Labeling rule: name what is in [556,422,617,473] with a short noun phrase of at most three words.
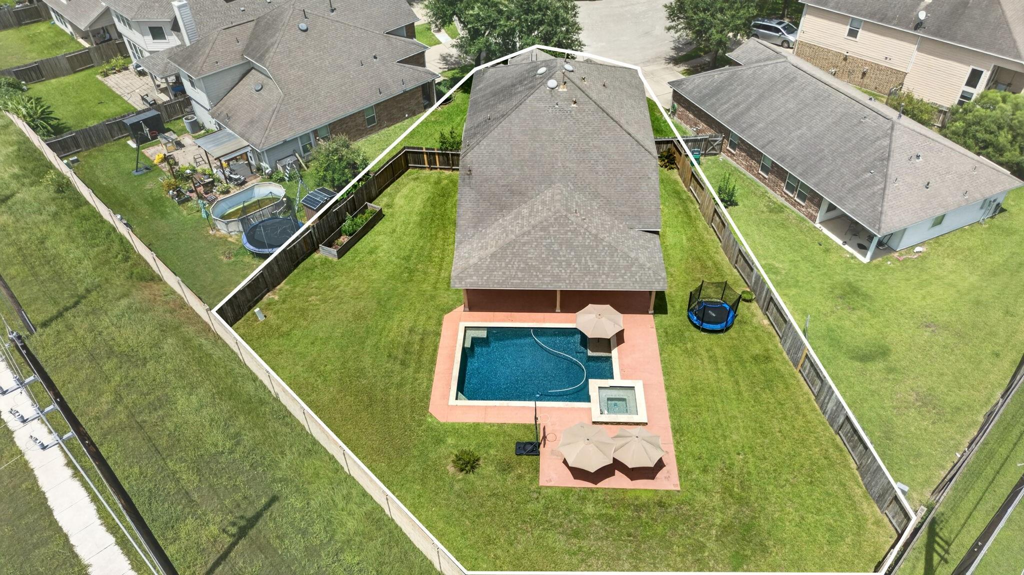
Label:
umbrella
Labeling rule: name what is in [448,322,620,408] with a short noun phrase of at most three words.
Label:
swimming pool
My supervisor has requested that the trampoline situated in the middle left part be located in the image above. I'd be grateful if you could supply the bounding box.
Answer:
[235,200,301,258]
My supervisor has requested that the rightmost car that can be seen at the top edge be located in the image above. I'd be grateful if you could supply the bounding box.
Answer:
[751,15,798,45]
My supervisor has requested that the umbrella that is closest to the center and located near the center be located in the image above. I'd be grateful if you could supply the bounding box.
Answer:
[576,304,625,348]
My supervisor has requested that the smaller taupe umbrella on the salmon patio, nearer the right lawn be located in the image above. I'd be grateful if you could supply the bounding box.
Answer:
[610,425,664,468]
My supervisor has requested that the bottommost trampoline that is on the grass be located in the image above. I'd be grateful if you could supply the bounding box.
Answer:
[687,281,741,340]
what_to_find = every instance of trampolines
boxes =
[235,200,301,258]
[687,281,741,340]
